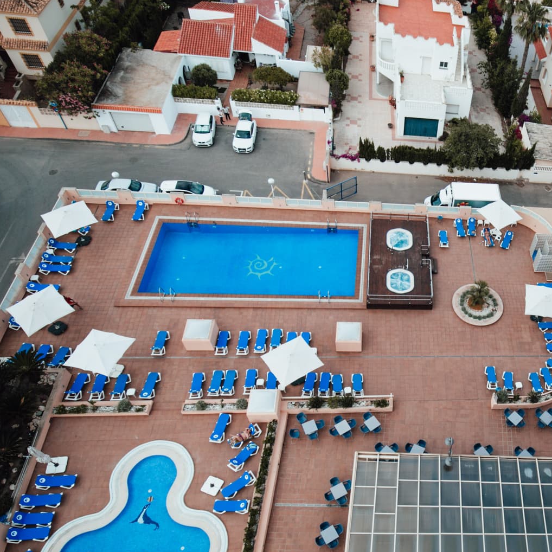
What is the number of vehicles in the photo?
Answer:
five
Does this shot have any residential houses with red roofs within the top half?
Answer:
Yes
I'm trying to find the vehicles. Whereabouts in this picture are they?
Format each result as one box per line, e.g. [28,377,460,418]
[190,115,216,150]
[426,182,501,216]
[157,175,216,200]
[231,106,257,156]
[93,173,157,198]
